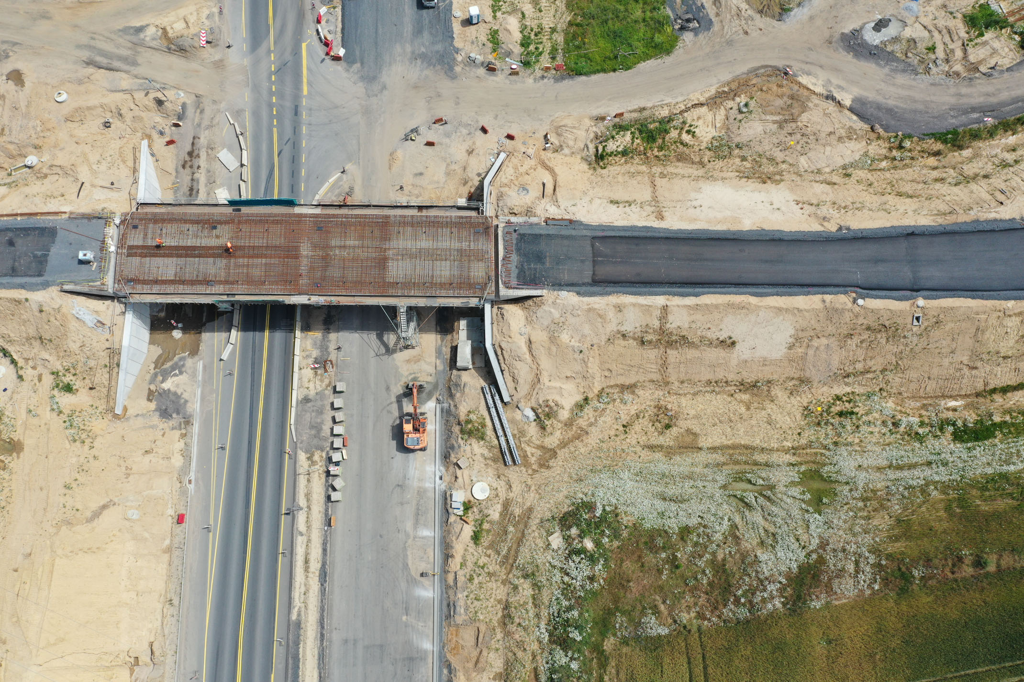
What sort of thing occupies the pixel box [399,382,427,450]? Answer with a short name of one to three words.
work vehicle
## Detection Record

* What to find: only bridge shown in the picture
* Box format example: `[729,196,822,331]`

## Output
[46,195,576,316]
